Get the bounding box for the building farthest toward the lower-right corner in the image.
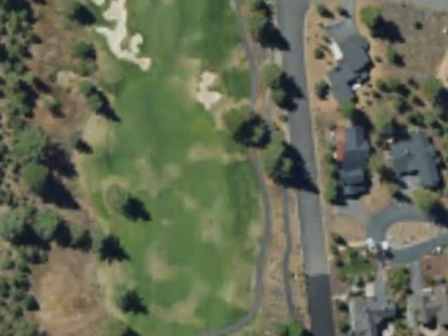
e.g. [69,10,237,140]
[407,285,448,336]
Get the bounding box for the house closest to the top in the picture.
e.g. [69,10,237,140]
[334,25,374,104]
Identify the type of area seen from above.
golf course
